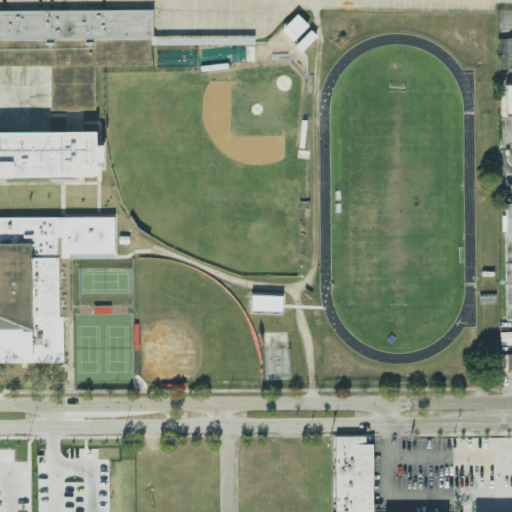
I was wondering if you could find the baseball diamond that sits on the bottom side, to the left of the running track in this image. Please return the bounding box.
[134,258,262,389]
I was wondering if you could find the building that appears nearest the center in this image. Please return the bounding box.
[252,295,284,314]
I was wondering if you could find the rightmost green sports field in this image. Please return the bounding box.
[332,45,464,352]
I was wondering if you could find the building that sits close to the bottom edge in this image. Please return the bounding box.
[332,437,374,512]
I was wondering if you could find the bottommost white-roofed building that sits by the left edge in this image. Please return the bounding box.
[0,216,116,364]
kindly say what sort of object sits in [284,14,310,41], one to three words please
shed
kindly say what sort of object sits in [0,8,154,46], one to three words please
building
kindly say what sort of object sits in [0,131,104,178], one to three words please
building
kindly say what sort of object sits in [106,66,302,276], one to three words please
baseball field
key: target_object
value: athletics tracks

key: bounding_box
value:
[320,34,476,364]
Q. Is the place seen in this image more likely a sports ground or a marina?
sports ground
